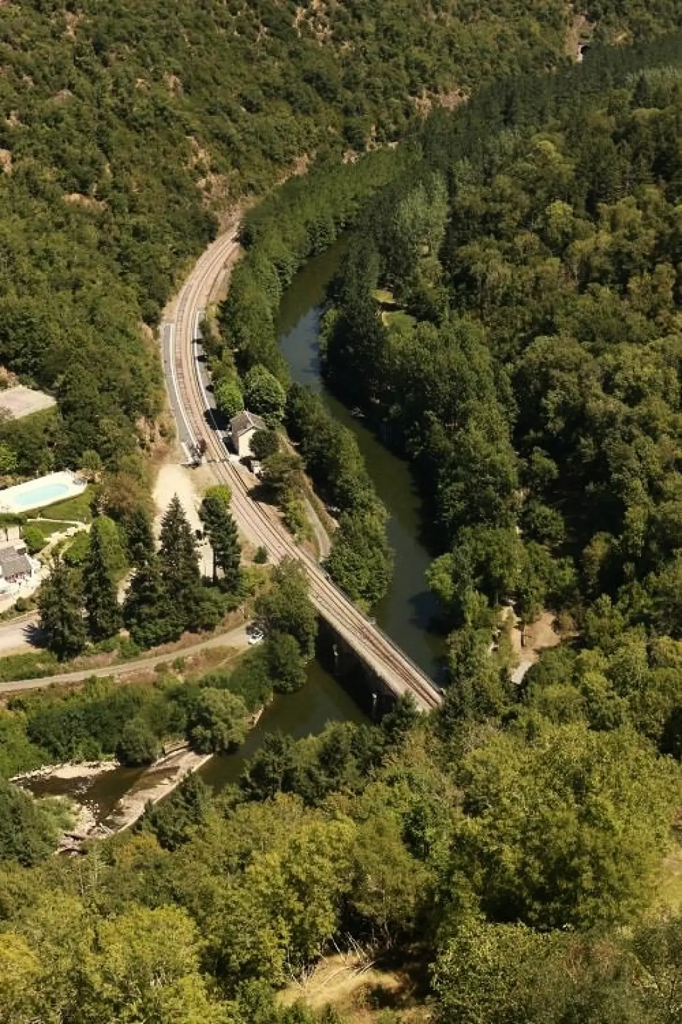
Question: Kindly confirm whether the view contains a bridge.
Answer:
Yes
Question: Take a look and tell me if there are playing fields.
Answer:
No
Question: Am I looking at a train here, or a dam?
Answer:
dam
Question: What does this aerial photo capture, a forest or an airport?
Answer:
forest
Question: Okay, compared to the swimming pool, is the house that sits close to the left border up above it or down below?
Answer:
below it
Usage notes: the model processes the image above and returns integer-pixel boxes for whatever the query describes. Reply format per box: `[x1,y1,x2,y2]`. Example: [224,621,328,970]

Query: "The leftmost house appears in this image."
[0,529,30,581]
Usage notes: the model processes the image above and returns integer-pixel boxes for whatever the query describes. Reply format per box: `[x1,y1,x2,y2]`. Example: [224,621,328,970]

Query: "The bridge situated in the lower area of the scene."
[286,568,449,705]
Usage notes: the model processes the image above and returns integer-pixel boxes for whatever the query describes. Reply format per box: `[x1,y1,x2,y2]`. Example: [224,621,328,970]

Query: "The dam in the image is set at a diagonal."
[117,751,215,837]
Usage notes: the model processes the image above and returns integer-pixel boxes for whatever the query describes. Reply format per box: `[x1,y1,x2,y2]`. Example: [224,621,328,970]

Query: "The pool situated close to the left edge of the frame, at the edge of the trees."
[0,471,87,514]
